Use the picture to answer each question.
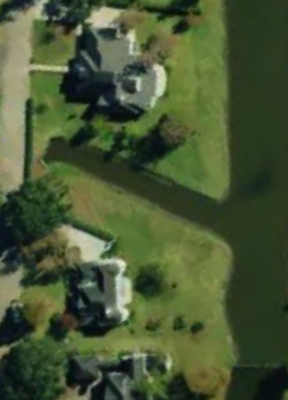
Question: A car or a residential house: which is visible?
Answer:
residential house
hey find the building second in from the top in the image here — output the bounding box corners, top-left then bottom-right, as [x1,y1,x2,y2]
[72,257,131,325]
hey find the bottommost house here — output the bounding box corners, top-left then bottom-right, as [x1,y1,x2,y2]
[66,351,169,400]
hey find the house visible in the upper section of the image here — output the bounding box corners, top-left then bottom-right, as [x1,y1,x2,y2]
[74,21,164,119]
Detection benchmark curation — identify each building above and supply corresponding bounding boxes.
[66,351,169,400]
[74,21,164,119]
[72,257,131,325]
